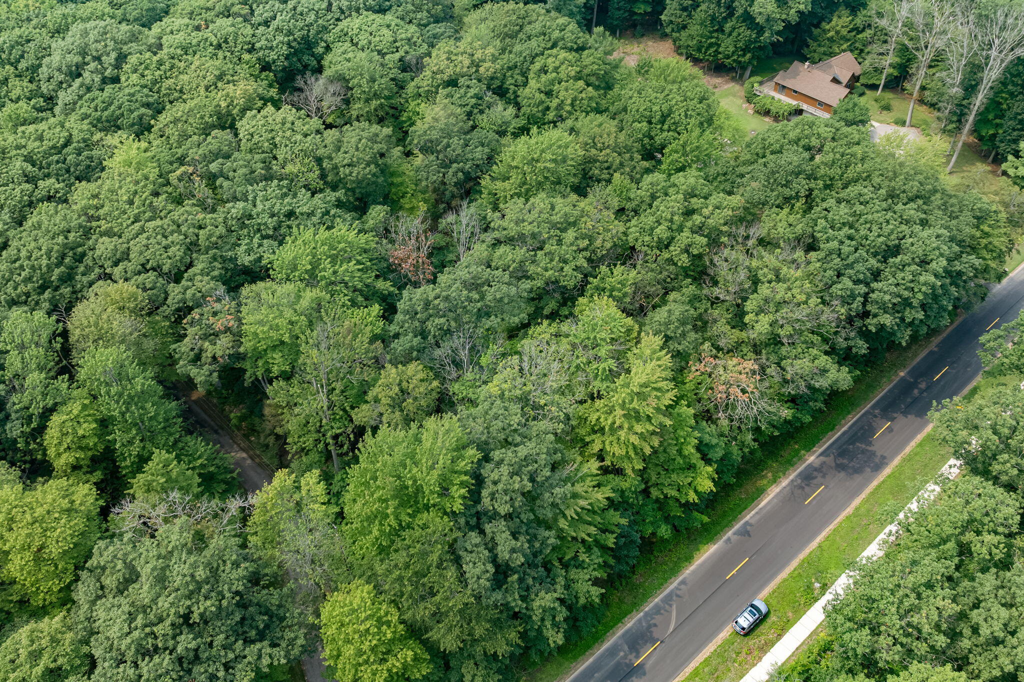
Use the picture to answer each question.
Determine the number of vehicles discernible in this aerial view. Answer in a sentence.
The picture shows 1 vehicle.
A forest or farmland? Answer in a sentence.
It's a forest.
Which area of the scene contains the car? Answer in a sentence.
Look in the bottom right portion of the view to spot the car.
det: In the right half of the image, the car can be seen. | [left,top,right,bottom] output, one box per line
[729,599,768,638]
